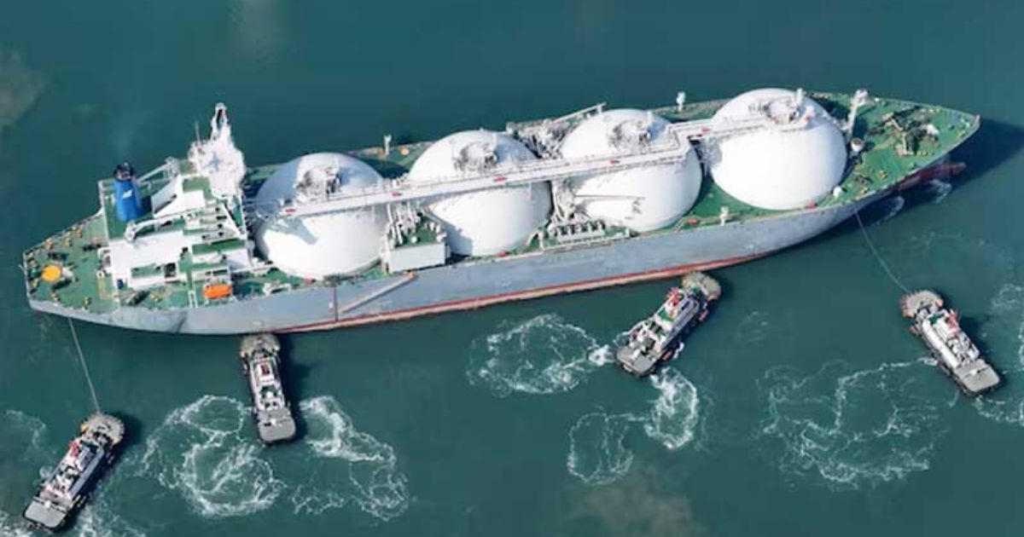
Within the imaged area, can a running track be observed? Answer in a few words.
No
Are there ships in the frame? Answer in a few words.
Yes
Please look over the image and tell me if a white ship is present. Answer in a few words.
Yes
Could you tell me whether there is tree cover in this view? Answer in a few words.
No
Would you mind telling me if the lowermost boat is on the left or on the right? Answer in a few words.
left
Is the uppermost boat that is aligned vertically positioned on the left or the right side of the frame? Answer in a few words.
left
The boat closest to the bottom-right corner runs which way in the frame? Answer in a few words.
diagonally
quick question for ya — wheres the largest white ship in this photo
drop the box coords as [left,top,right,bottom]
[23,82,979,334]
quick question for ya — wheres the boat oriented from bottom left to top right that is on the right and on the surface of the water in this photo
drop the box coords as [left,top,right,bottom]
[619,270,716,381]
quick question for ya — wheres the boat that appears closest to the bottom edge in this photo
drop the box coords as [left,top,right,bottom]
[27,411,116,533]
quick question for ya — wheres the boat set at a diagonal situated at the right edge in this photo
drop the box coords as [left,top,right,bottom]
[907,286,1000,396]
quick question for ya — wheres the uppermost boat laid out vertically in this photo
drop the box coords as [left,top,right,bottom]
[241,334,295,445]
